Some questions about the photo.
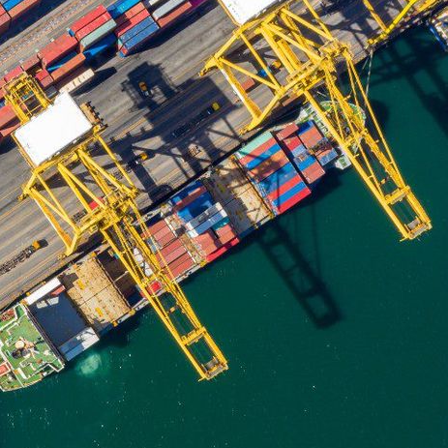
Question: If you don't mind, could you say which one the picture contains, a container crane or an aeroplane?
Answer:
container crane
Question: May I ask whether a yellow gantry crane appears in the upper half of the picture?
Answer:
Yes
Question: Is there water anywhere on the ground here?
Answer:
Yes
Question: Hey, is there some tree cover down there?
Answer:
No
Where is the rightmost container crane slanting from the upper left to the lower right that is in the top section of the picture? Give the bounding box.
[188,0,433,245]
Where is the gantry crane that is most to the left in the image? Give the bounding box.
[0,65,231,386]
